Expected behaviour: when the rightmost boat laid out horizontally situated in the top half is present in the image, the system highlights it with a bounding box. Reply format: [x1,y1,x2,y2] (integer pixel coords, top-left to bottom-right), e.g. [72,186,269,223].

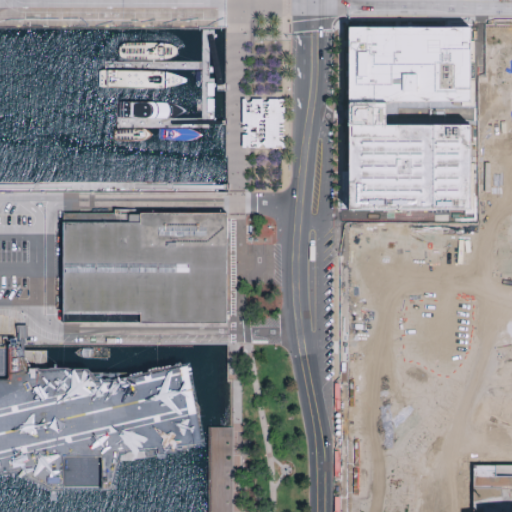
[160,128,202,142]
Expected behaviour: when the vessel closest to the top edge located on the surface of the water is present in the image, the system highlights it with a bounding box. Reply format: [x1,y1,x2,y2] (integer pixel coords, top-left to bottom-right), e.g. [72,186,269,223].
[119,42,178,60]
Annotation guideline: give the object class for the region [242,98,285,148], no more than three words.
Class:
building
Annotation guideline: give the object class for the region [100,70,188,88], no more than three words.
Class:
boat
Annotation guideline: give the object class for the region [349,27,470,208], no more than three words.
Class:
building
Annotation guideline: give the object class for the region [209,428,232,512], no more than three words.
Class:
pier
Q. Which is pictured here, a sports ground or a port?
port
